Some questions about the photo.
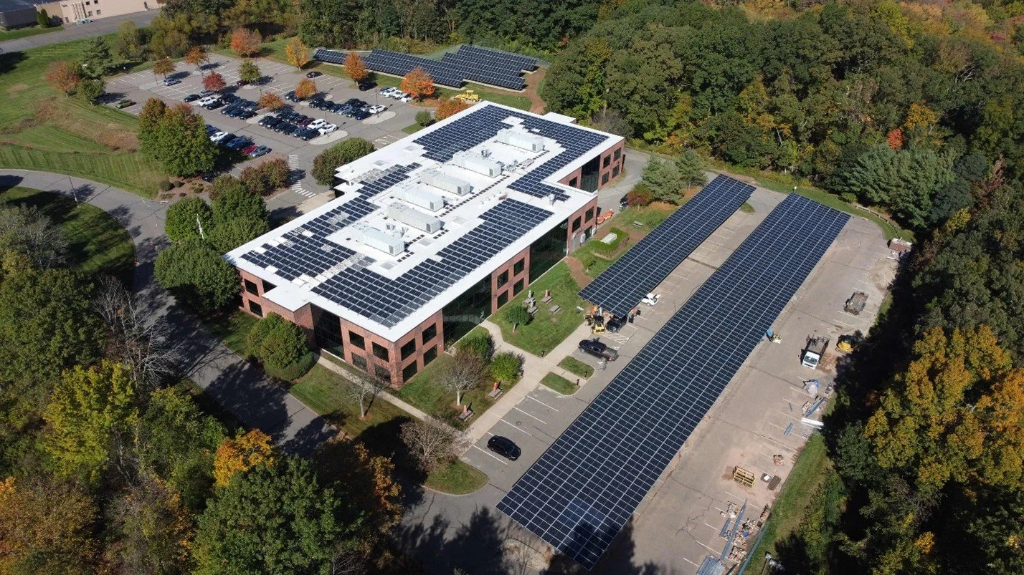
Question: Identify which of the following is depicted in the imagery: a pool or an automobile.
automobile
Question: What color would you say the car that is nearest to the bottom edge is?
black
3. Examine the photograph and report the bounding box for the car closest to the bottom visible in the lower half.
[484,433,525,461]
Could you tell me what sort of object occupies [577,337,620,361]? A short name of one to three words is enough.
car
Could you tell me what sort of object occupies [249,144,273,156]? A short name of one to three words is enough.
vehicle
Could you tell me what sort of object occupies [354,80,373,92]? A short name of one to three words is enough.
vehicle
